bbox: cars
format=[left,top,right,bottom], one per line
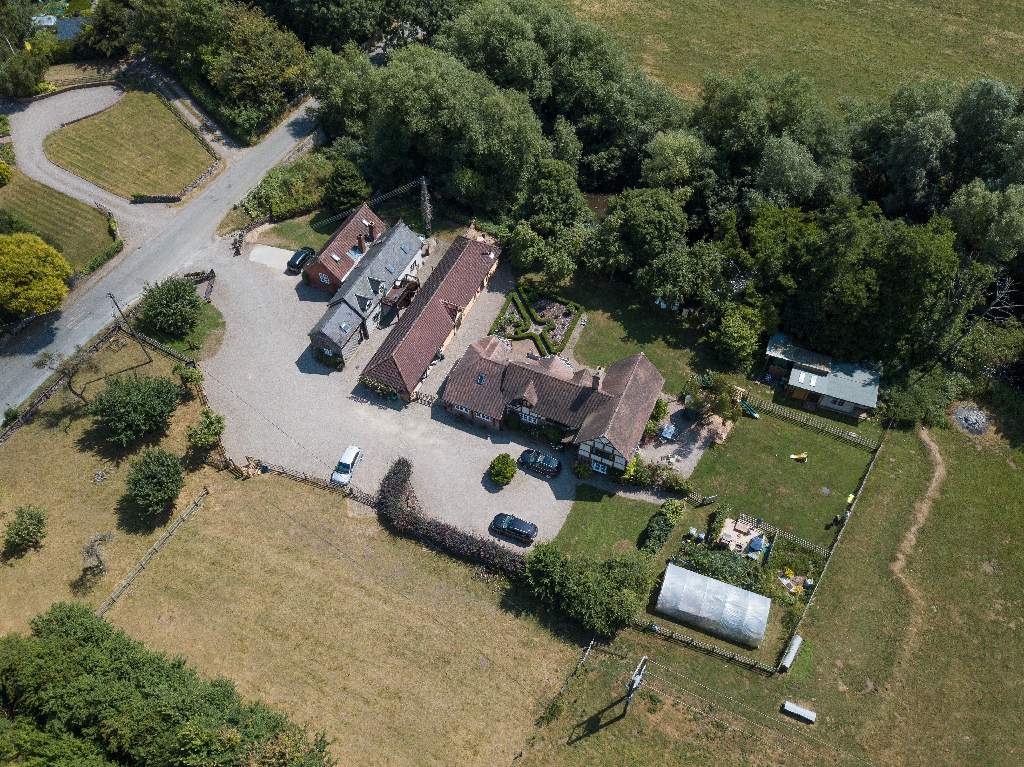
[286,248,315,271]
[490,513,538,544]
[518,447,562,475]
[332,446,365,484]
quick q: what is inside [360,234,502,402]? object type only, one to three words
barn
